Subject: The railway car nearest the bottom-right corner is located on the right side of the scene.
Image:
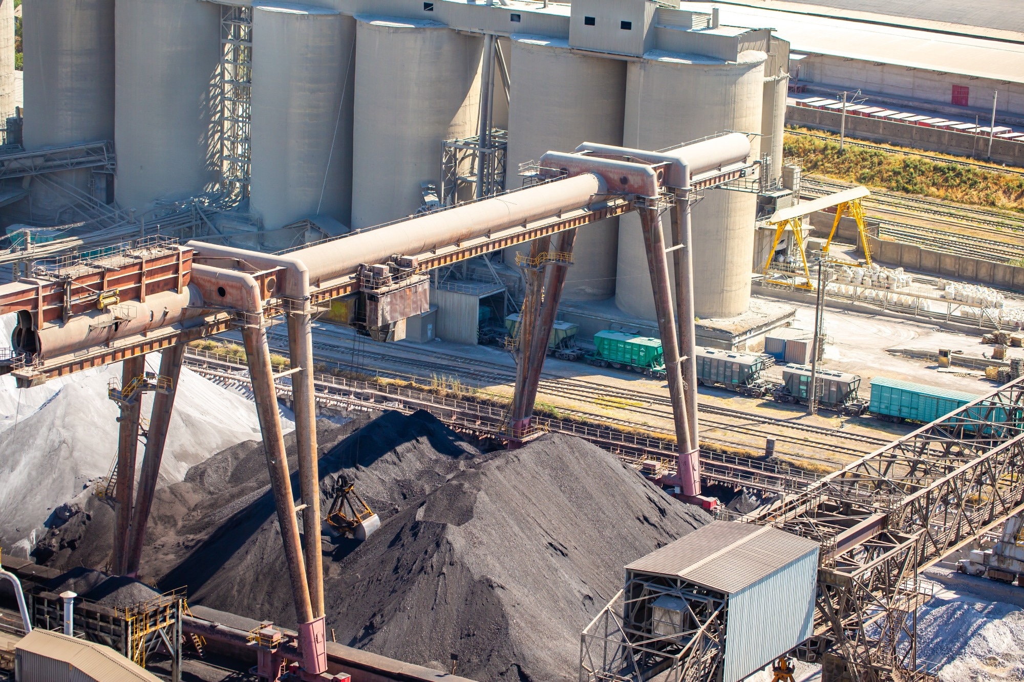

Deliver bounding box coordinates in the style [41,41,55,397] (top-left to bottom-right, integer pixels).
[770,361,871,415]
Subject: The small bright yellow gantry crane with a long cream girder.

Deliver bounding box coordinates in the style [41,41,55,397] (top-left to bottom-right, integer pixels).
[774,178,881,284]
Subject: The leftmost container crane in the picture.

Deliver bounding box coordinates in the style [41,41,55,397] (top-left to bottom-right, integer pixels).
[0,122,799,682]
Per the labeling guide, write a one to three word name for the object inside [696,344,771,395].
rail car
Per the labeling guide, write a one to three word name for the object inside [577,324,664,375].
rail car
